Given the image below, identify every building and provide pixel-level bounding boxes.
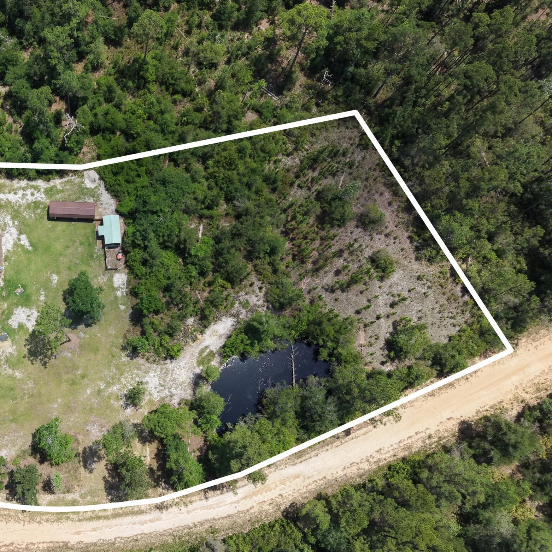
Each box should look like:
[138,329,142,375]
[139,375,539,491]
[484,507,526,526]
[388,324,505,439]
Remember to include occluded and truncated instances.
[95,214,121,251]
[50,201,96,219]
